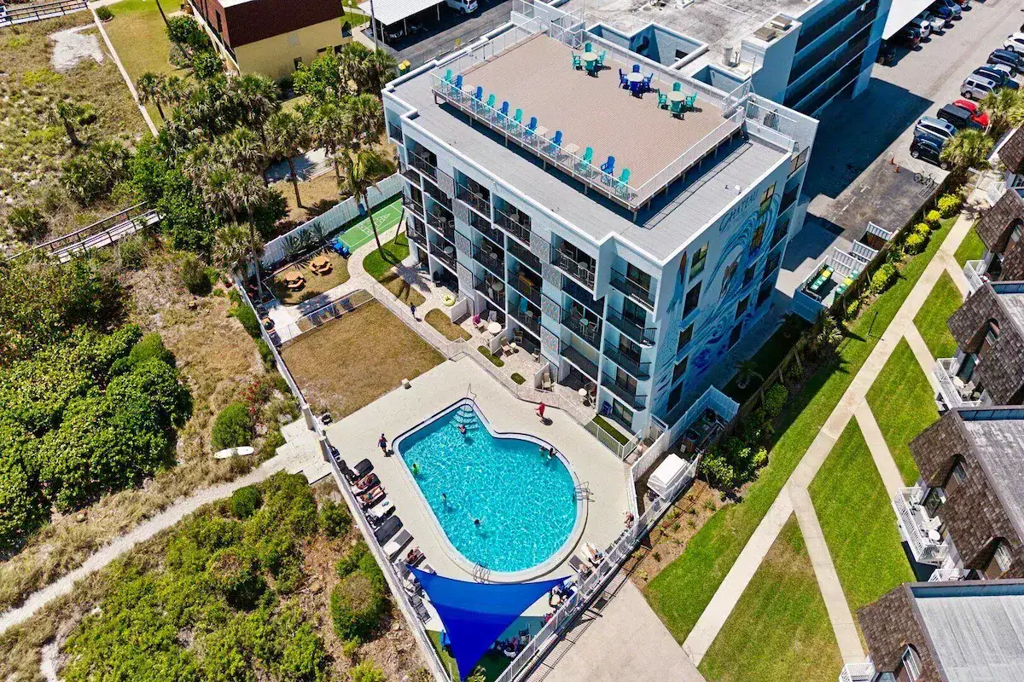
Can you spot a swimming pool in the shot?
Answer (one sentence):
Yes, a swimming pool appears in the view.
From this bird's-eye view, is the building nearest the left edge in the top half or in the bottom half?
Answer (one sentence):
The top half of the photo is where the building nearest the left edge is.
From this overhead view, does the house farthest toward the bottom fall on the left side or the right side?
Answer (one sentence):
It is on the right.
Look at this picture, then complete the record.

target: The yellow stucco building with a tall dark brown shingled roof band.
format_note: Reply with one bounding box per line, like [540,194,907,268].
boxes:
[192,0,348,77]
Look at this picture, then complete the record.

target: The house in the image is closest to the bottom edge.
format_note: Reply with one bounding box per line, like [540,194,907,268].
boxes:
[831,580,1024,682]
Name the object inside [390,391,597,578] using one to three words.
swimming pool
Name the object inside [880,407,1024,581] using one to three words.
house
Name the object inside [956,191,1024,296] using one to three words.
house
